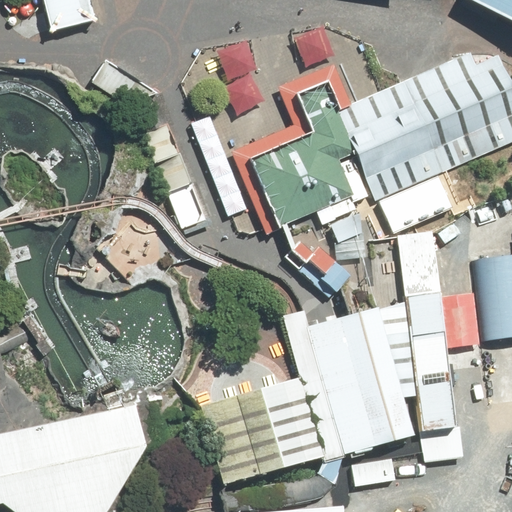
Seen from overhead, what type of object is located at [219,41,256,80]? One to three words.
umbrella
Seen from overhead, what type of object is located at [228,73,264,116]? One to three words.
umbrella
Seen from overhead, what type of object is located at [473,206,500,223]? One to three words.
vehicle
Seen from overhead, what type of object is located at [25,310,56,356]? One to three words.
shed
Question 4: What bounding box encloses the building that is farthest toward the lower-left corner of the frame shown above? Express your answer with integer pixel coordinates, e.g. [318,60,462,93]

[0,403,147,512]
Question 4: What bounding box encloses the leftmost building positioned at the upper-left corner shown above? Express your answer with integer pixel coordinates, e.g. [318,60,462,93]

[43,0,94,32]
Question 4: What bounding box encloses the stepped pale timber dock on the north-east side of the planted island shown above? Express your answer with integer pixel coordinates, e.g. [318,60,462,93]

[31,148,64,181]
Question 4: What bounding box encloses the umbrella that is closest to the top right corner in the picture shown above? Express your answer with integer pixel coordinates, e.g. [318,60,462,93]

[295,26,334,68]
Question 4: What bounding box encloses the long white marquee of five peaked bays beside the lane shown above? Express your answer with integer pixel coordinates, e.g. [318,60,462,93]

[192,118,246,216]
